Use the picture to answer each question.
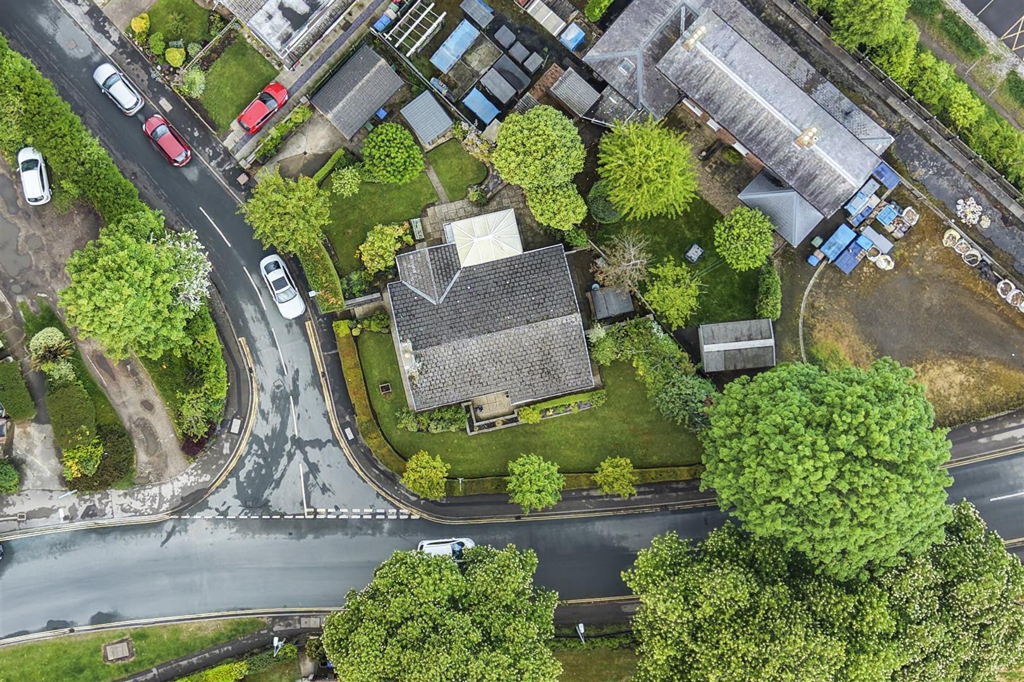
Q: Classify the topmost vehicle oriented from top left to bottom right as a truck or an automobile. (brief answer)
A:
automobile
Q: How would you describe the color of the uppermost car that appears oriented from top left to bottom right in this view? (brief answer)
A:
white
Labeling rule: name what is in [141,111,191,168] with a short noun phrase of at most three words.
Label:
car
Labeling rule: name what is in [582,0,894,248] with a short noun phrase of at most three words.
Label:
house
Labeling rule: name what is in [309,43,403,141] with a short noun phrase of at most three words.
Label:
building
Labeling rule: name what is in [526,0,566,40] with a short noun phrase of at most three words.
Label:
shed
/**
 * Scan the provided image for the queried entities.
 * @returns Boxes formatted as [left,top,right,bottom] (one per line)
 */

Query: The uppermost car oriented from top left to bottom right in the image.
[92,61,145,117]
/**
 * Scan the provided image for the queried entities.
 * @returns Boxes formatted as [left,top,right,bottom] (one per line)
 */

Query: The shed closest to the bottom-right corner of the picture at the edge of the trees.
[699,319,776,372]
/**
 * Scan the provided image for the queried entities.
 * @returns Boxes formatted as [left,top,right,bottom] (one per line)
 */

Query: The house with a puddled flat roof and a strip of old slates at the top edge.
[219,0,359,72]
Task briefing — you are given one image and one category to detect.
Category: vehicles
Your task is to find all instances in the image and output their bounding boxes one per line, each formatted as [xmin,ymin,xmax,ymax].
[14,146,51,206]
[262,252,302,321]
[92,61,145,117]
[237,80,289,134]
[141,111,191,168]
[417,537,476,564]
